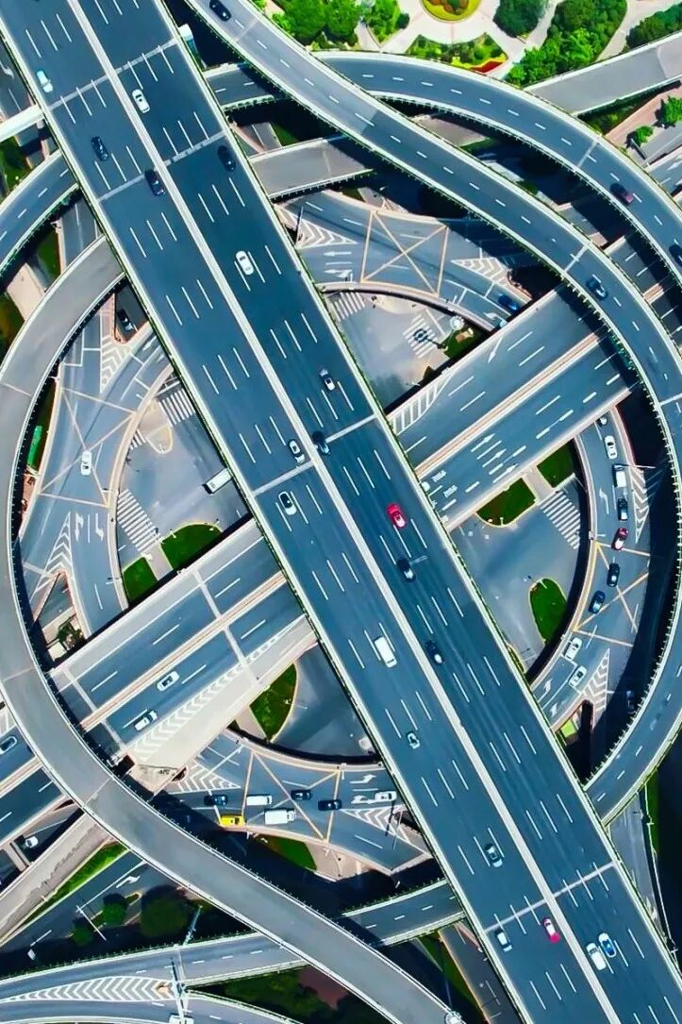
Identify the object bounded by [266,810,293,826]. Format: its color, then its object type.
white vehicle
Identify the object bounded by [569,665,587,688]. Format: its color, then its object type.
white car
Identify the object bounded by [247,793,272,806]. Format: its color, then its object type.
white vehicle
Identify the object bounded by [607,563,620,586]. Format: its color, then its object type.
black vehicle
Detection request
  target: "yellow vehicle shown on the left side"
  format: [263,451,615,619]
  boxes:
[221,814,246,826]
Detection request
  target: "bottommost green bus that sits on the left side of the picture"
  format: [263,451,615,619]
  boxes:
[19,422,43,470]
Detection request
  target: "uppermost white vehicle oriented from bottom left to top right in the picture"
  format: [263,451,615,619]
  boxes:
[199,468,232,494]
